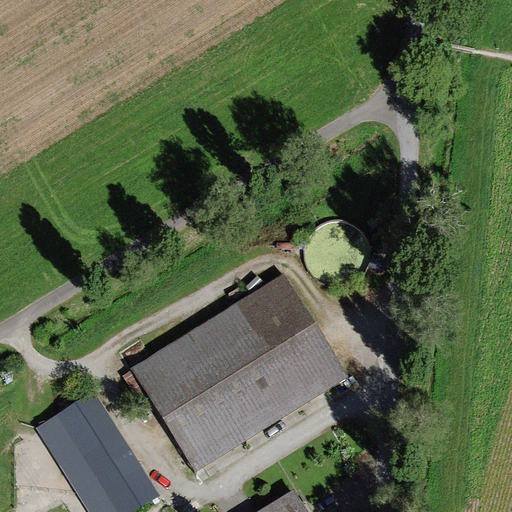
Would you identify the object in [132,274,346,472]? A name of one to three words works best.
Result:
barn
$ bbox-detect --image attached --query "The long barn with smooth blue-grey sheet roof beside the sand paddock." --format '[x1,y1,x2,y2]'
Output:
[34,392,159,512]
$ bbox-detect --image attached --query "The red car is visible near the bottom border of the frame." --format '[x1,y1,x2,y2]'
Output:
[150,470,172,488]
